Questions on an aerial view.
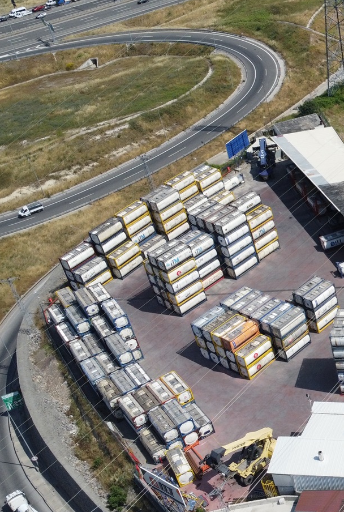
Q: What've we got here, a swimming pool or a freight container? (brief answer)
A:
freight container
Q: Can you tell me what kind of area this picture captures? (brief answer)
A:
industrial area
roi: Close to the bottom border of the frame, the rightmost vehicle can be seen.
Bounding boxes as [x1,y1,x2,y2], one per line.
[205,432,280,495]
